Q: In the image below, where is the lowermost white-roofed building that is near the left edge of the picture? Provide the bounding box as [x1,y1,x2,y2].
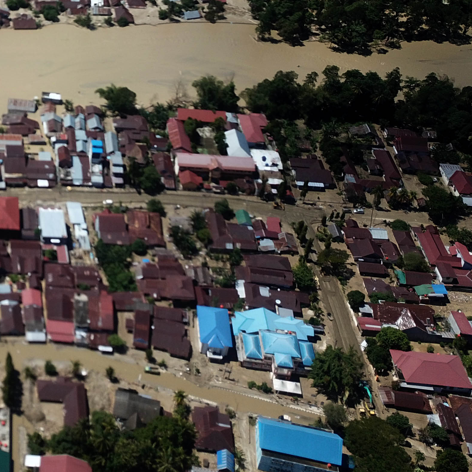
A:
[22,453,42,472]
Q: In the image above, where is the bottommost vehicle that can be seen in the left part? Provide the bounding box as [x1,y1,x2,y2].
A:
[143,362,163,375]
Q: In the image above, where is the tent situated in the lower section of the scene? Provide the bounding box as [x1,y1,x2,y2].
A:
[270,380,303,399]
